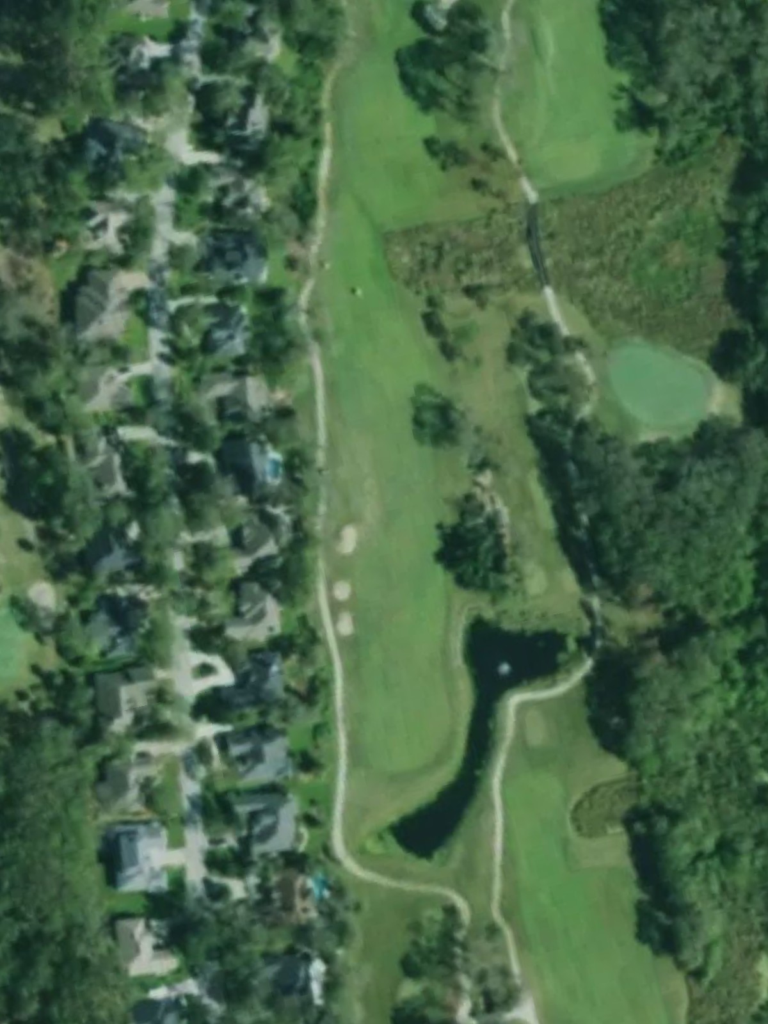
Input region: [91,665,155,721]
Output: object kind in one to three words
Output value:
house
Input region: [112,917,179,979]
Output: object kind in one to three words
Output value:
house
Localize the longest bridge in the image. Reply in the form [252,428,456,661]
[525,199,553,293]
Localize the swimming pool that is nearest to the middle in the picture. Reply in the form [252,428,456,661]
[265,443,284,485]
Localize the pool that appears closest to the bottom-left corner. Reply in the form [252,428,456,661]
[308,869,331,900]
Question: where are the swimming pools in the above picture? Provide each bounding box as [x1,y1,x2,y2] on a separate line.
[308,869,331,900]
[265,443,284,485]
